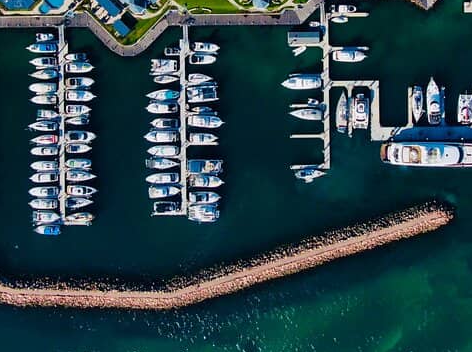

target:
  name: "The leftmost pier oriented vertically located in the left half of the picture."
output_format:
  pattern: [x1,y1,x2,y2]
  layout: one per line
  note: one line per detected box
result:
[35,26,92,225]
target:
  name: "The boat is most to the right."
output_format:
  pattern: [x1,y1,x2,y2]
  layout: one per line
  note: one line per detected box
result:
[458,95,472,123]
